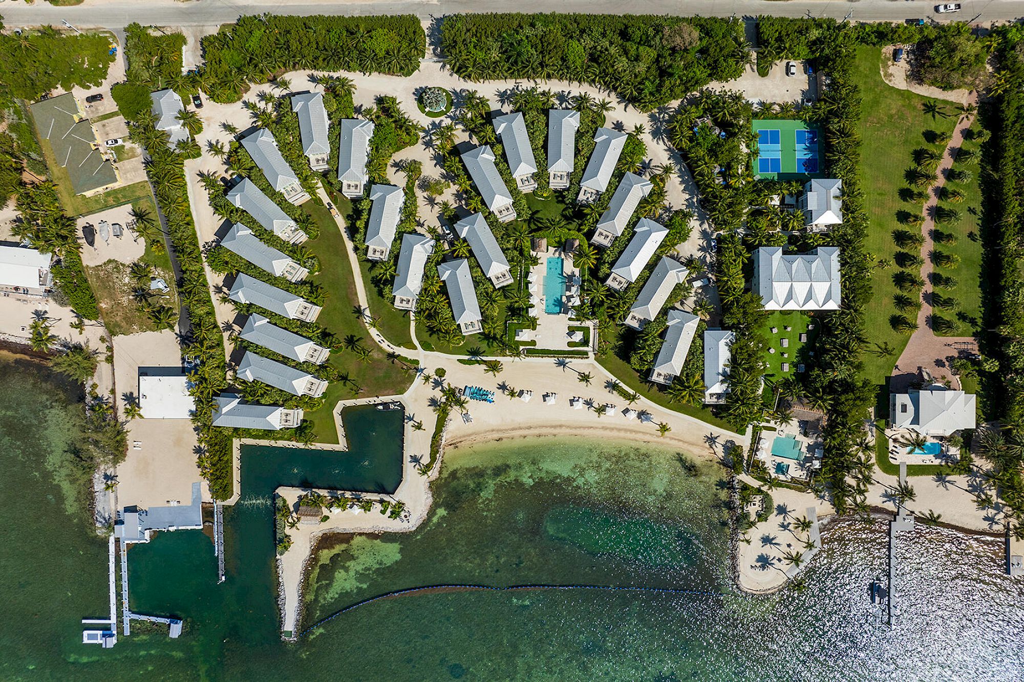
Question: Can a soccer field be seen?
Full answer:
No, I can't see a single soccer field in this photo.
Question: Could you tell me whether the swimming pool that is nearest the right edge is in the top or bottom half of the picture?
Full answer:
The bottom half of the photo is where the swimming pool that is nearest the right edge is.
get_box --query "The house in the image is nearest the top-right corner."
[797,179,842,233]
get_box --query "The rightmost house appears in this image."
[886,372,976,436]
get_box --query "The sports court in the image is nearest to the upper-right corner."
[753,117,828,180]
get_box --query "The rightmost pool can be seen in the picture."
[888,428,959,464]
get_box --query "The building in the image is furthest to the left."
[0,246,58,297]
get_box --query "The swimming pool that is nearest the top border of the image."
[521,248,597,353]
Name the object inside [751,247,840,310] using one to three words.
building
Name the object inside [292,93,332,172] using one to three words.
house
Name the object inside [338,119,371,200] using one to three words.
house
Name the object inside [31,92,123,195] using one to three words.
building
